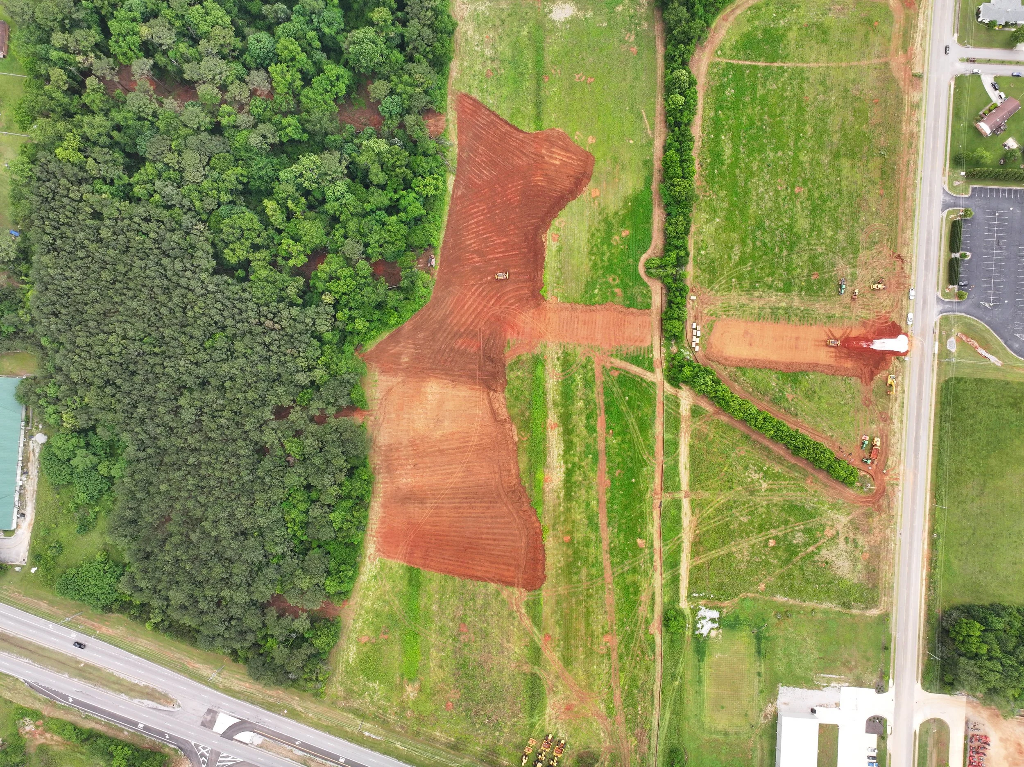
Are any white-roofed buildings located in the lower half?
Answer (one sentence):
Yes, the scene does show a white-roofed building in the lower half.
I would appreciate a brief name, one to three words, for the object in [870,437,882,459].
vehicle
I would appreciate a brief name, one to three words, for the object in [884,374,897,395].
vehicle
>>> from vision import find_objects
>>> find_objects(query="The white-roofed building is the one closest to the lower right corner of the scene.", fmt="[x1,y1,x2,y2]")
[775,713,818,767]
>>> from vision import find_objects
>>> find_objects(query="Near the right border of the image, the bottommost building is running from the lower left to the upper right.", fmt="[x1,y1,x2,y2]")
[973,96,1020,139]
